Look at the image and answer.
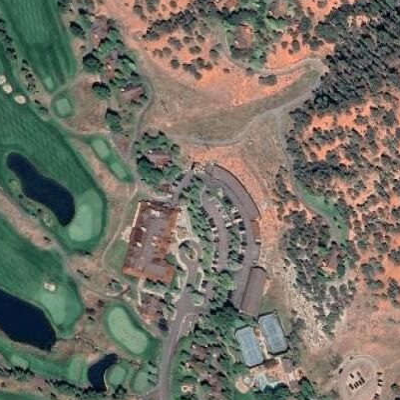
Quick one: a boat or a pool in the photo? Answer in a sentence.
There is a pool in the scene.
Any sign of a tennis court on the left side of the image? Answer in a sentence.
No, no tennis court appears on the left side of the image.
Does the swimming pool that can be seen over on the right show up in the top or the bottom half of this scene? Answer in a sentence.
The swimming pool that can be seen over on the right is in the bottom half of the image.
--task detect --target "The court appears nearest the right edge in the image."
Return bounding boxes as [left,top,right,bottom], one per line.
[259,313,289,355]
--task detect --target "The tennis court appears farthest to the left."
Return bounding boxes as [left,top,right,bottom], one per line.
[236,326,265,368]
